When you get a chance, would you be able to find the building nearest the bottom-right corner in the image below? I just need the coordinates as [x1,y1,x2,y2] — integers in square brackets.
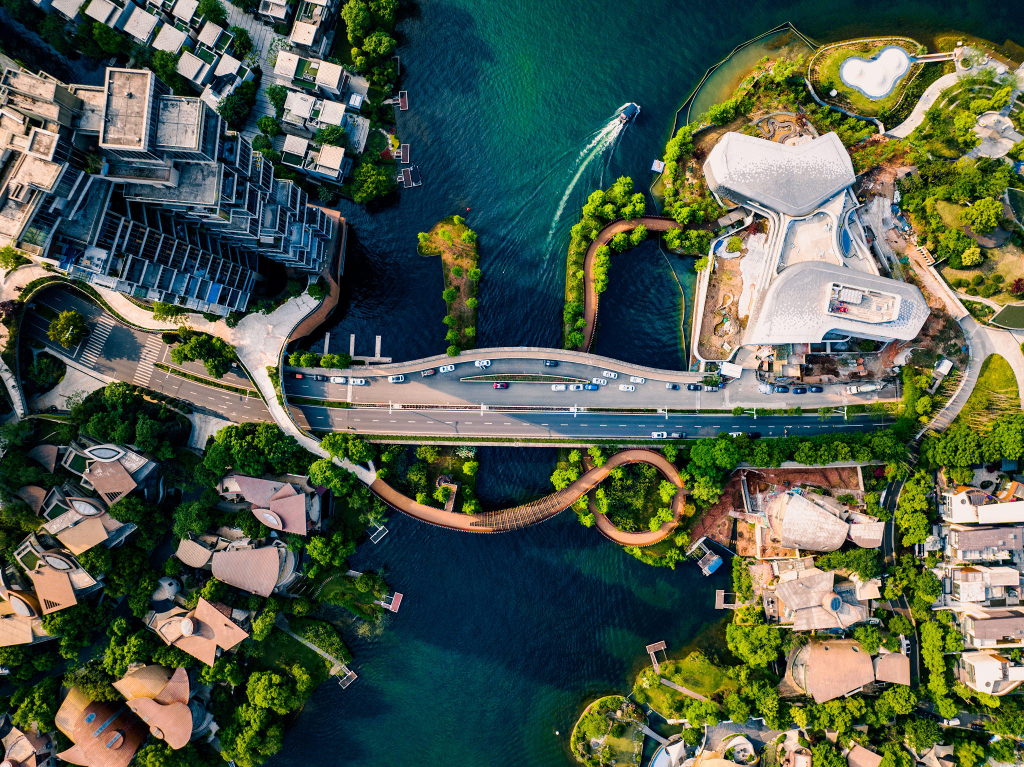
[954,647,1024,696]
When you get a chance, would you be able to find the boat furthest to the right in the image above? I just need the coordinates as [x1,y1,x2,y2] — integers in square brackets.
[703,558,721,575]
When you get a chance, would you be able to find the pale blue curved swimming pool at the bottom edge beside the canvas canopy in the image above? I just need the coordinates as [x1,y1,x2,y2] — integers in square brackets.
[643,734,674,767]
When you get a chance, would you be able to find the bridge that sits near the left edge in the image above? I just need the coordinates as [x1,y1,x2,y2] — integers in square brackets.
[0,362,25,419]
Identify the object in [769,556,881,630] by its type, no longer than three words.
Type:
house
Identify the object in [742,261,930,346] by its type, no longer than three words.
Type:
building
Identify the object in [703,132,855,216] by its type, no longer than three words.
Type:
building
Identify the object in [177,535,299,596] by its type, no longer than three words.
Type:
house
